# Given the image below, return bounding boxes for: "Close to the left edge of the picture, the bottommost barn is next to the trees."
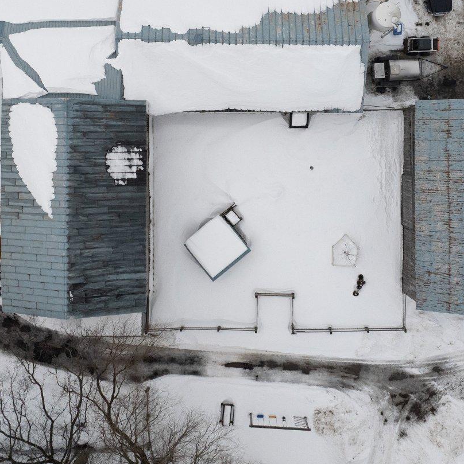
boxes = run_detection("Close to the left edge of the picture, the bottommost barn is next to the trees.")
[1,98,151,320]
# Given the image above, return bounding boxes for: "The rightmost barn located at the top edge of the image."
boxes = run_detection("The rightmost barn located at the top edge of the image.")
[116,0,370,115]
